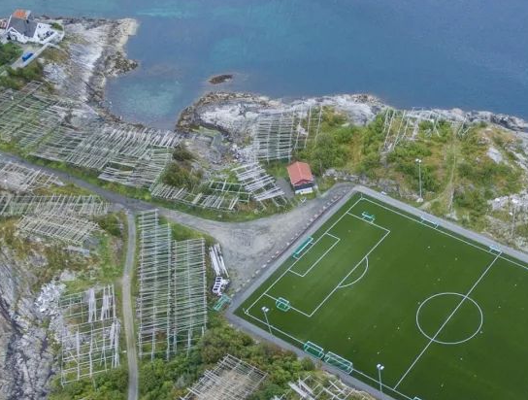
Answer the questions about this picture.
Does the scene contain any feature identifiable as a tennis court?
No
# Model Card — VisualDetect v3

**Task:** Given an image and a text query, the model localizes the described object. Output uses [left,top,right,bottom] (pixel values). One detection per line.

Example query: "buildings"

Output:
[2,1,51,50]
[288,160,314,192]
